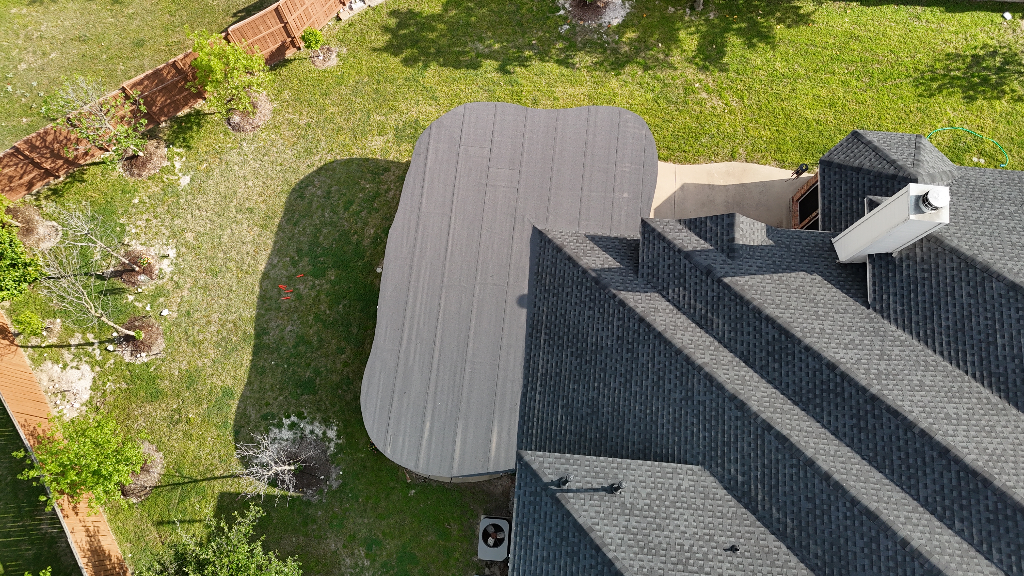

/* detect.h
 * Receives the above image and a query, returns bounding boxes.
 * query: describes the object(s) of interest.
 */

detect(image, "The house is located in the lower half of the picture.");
[508,128,1024,576]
